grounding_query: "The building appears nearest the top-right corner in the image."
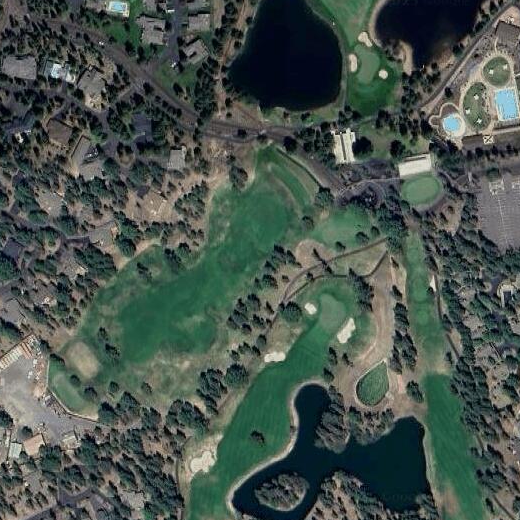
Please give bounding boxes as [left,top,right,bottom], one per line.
[495,22,520,44]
